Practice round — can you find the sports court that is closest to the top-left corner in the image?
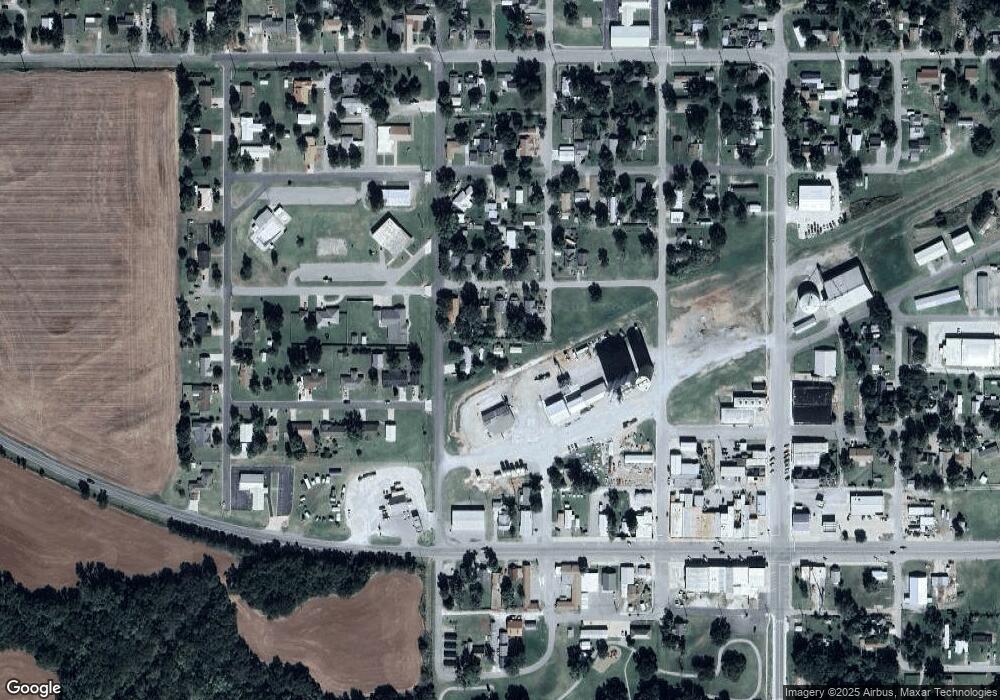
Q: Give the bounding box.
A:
[317,238,347,256]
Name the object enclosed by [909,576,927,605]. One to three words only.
building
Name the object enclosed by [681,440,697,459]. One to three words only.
house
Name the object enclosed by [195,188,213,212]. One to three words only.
building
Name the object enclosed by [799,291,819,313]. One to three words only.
silo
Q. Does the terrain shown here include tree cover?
Yes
